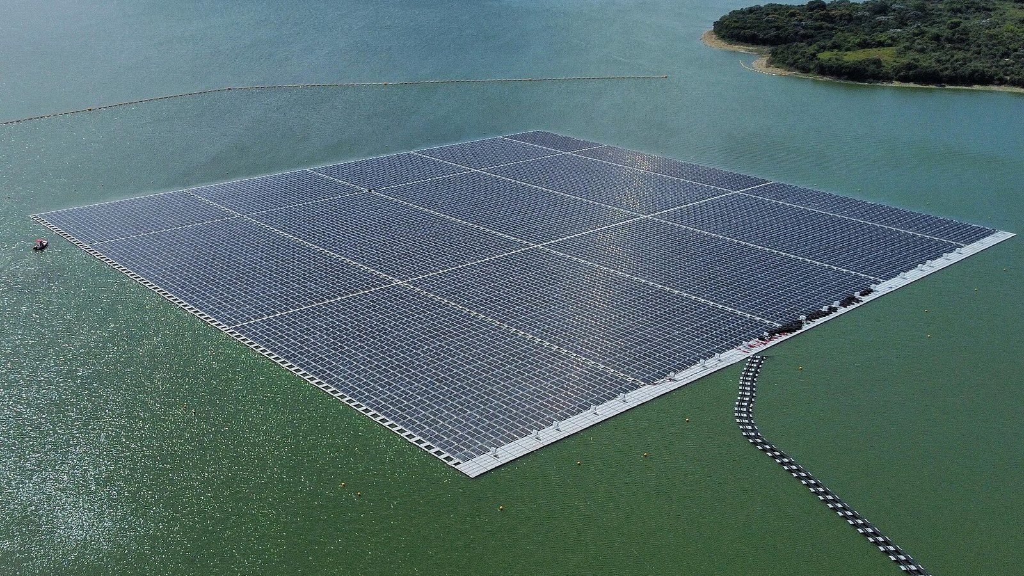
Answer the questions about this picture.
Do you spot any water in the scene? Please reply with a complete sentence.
Yes, water can be seen from above here.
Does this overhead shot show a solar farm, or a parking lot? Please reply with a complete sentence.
The picture captures a solar farm.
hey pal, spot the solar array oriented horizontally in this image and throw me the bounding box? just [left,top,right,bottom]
[30,131,1016,479]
